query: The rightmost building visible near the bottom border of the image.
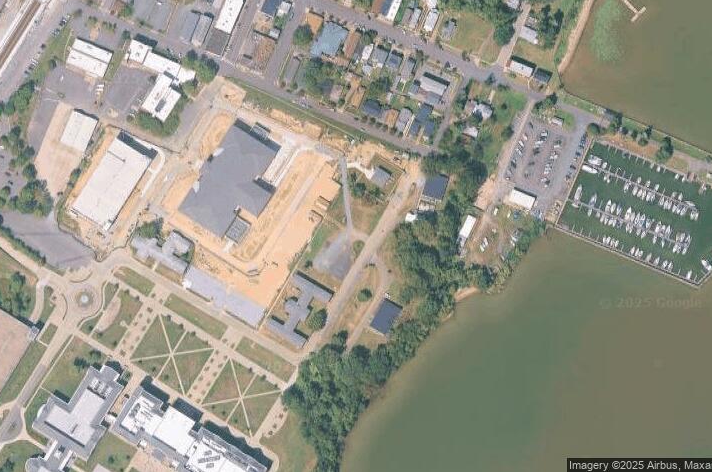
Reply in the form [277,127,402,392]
[112,387,267,472]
